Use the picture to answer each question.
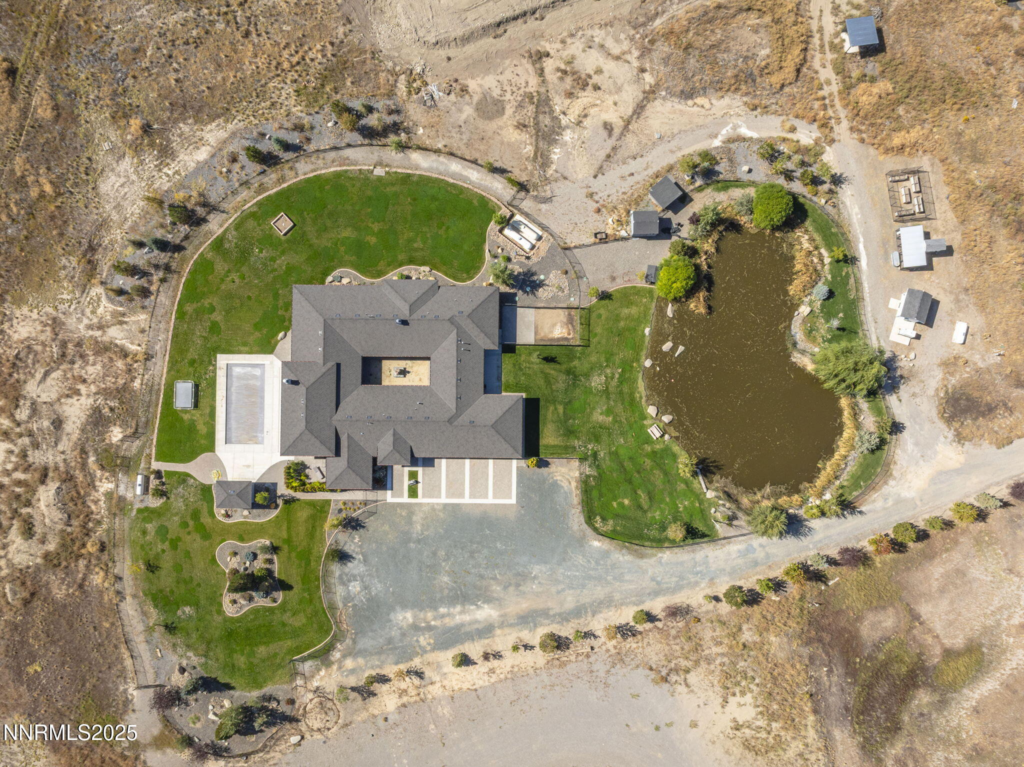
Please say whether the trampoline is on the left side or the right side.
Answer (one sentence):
The trampoline sits on the left side.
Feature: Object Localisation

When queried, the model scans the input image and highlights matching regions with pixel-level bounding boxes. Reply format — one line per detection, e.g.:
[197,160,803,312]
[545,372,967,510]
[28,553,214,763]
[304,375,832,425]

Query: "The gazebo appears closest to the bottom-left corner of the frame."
[214,479,257,509]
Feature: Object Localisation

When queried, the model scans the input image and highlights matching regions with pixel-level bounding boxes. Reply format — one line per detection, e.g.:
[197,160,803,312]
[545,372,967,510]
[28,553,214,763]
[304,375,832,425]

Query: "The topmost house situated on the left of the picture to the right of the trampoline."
[280,279,525,490]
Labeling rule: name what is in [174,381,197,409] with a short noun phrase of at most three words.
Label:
trampoline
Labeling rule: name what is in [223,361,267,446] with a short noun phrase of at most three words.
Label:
swimming pool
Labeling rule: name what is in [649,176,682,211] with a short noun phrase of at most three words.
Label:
shed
